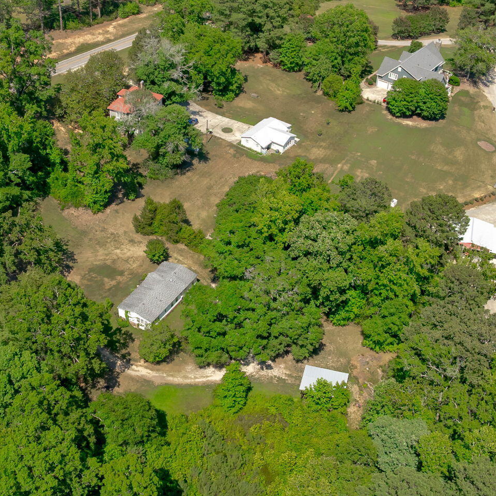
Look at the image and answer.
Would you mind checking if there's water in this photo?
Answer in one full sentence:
No, water can't be seen anywhere here.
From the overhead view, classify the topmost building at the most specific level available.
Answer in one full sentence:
Specifically, the topmost building is a house.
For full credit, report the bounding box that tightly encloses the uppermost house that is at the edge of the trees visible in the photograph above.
[376,34,459,94]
